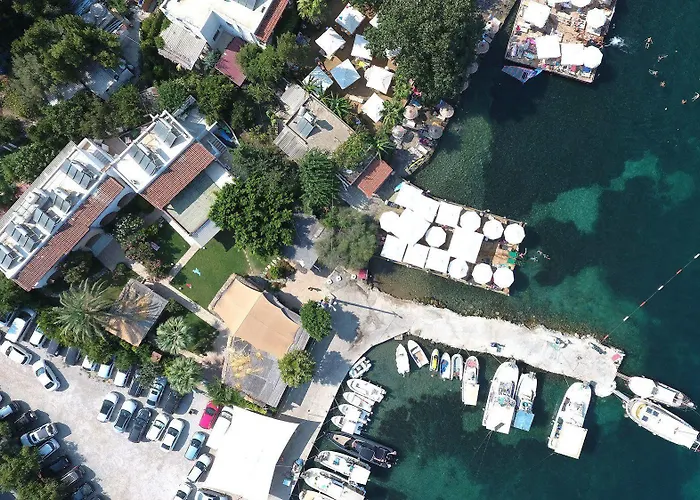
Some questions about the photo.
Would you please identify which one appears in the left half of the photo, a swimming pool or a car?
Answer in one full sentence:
Visible in the left half of the photo is a car.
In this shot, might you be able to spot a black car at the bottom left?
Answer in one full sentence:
Yes, I can see a black car at the bottom left.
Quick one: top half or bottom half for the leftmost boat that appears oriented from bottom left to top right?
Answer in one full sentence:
The leftmost boat that appears oriented from bottom left to top right is in the bottom half of the image.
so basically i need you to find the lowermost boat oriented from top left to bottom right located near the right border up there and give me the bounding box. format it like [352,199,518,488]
[621,395,700,458]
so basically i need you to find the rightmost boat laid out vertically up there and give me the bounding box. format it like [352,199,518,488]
[544,380,588,460]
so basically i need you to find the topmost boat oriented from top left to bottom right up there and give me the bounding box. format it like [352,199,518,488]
[409,341,429,370]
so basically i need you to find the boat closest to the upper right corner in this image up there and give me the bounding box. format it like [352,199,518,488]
[411,155,432,170]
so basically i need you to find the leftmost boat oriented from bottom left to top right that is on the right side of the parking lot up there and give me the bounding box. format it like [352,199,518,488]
[349,354,374,377]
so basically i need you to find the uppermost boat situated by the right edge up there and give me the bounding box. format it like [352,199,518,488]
[622,374,700,410]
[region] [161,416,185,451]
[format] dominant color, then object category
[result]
white car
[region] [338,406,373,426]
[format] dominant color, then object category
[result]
white boat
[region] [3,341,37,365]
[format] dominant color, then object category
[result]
white car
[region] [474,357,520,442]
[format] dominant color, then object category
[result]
white boat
